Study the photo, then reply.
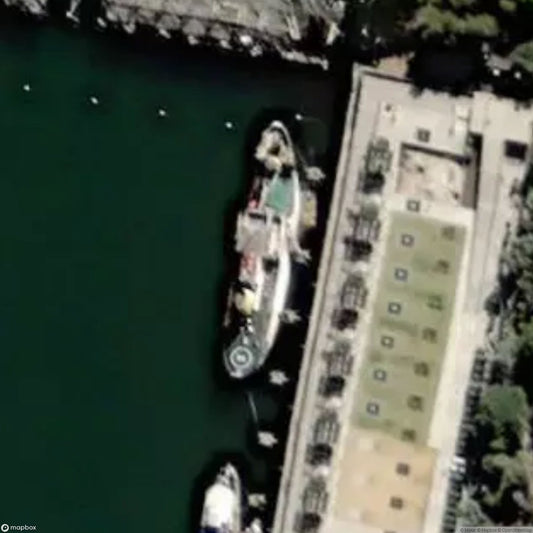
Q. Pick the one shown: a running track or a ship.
ship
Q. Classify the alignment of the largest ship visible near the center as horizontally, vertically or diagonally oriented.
vertically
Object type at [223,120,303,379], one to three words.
ship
